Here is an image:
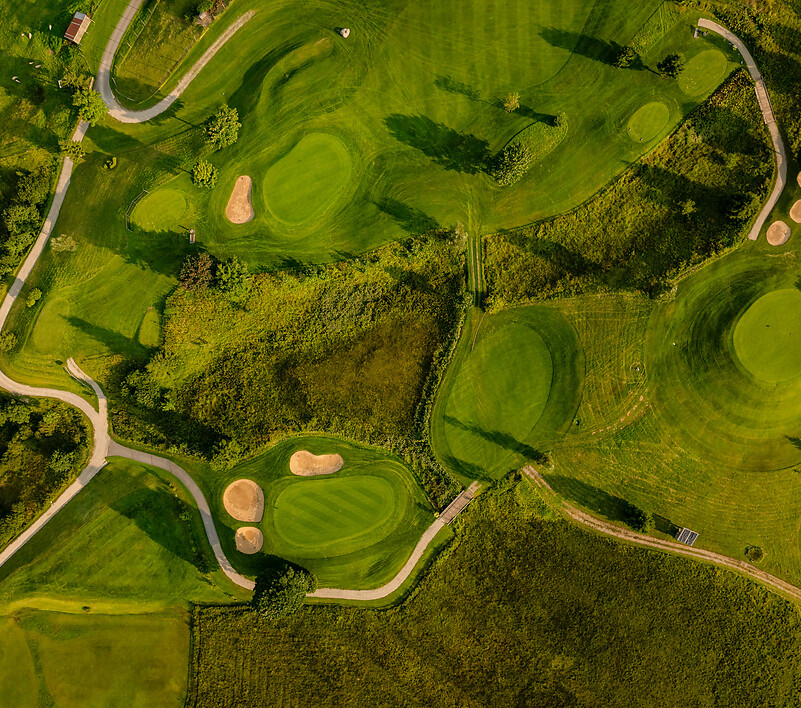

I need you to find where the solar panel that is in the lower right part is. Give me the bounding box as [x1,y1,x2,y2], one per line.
[677,526,699,546]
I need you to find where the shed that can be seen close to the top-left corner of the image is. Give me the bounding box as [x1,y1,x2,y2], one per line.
[64,12,101,45]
